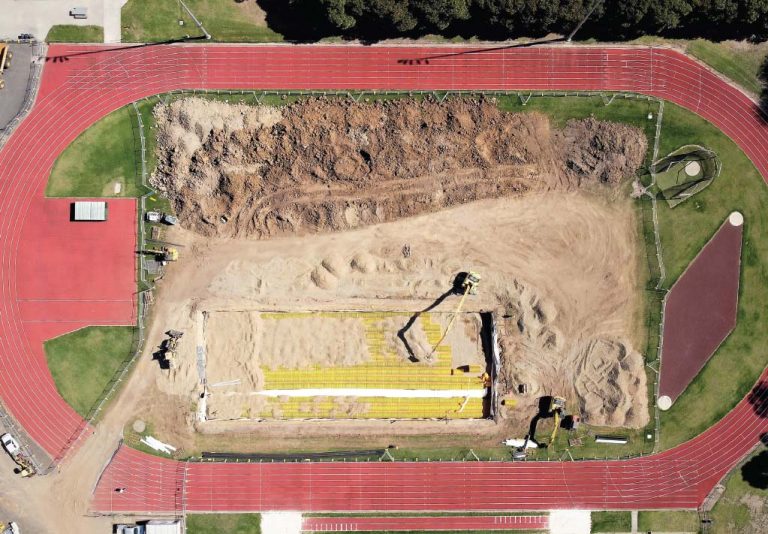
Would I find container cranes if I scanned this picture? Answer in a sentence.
No, I can't see a single container crane in this photo.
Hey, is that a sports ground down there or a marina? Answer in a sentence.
This looks like a sports ground.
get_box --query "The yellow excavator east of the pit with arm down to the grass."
[546,394,569,447]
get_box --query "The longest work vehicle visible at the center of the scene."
[425,270,483,361]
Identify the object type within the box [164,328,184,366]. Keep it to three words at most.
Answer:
work vehicle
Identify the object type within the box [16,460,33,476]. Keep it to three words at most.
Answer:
work vehicle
